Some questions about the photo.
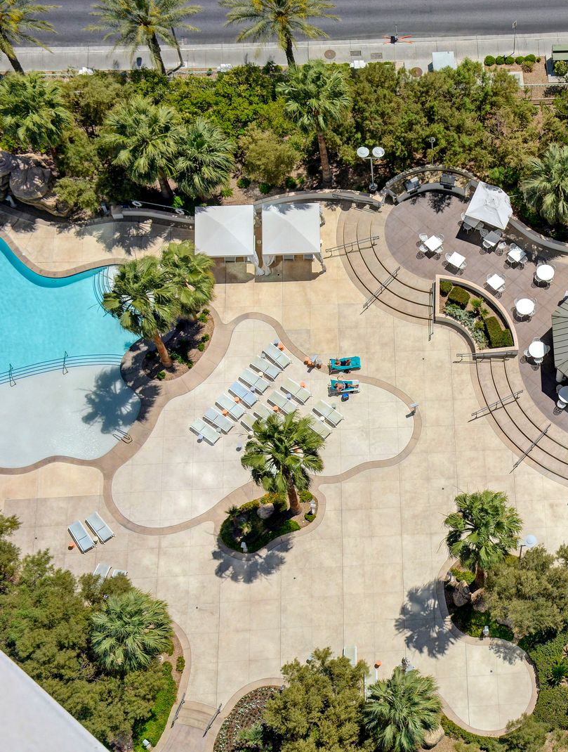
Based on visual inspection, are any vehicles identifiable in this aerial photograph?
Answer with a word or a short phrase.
No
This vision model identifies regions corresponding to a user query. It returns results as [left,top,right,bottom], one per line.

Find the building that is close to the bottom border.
[0,644,116,752]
